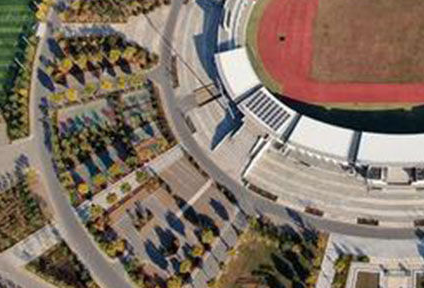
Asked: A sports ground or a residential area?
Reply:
sports ground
